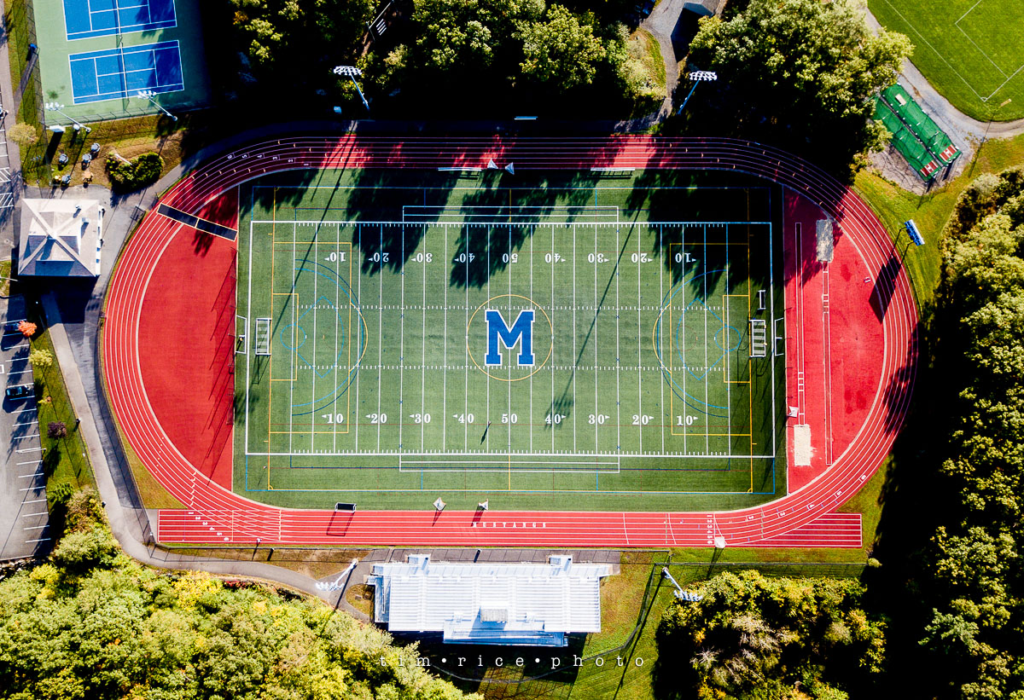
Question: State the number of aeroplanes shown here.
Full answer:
Not a single aeroplane can be seen.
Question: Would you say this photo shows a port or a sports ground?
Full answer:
The area seen from above is a sports ground.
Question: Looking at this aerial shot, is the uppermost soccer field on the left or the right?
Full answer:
The uppermost soccer field appears in the right half of the scene.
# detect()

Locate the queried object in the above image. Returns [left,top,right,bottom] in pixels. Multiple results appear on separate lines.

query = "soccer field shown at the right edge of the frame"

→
[886,0,1024,101]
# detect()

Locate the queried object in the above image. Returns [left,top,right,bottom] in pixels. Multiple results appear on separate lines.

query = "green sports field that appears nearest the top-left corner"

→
[230,170,788,510]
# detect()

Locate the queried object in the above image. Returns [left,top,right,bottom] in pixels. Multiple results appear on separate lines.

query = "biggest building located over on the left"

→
[18,198,102,276]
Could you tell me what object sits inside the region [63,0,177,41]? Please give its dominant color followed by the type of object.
blue tennis court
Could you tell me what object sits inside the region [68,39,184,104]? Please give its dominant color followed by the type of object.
blue tennis court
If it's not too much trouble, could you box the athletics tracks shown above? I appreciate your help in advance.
[102,131,924,553]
